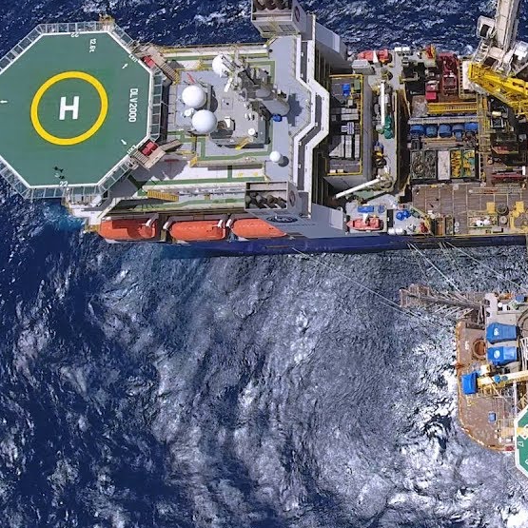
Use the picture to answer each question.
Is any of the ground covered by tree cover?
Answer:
No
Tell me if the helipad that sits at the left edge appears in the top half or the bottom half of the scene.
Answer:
top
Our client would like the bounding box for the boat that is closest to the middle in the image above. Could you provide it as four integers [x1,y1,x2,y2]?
[230,210,284,240]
